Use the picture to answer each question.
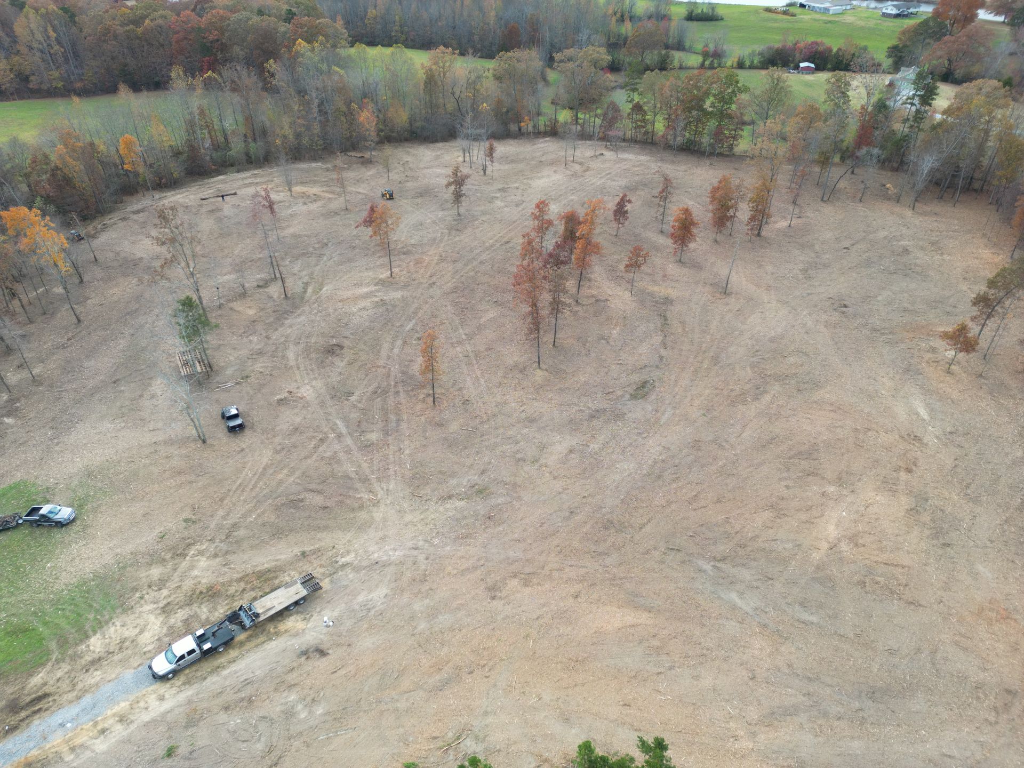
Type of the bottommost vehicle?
truck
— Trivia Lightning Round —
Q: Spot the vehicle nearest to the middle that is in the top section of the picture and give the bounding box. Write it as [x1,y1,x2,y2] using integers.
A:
[375,188,394,201]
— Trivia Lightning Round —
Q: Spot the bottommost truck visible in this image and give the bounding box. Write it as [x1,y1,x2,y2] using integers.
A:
[147,619,235,682]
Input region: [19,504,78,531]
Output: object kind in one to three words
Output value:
truck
